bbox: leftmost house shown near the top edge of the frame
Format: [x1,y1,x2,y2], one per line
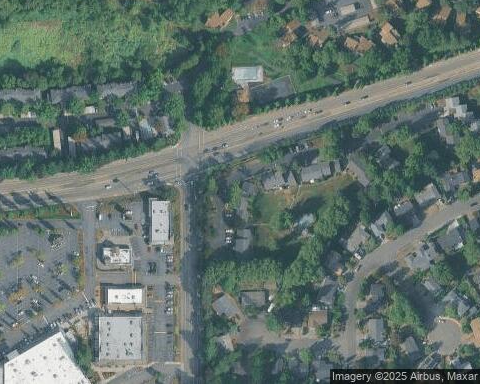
[203,4,236,27]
